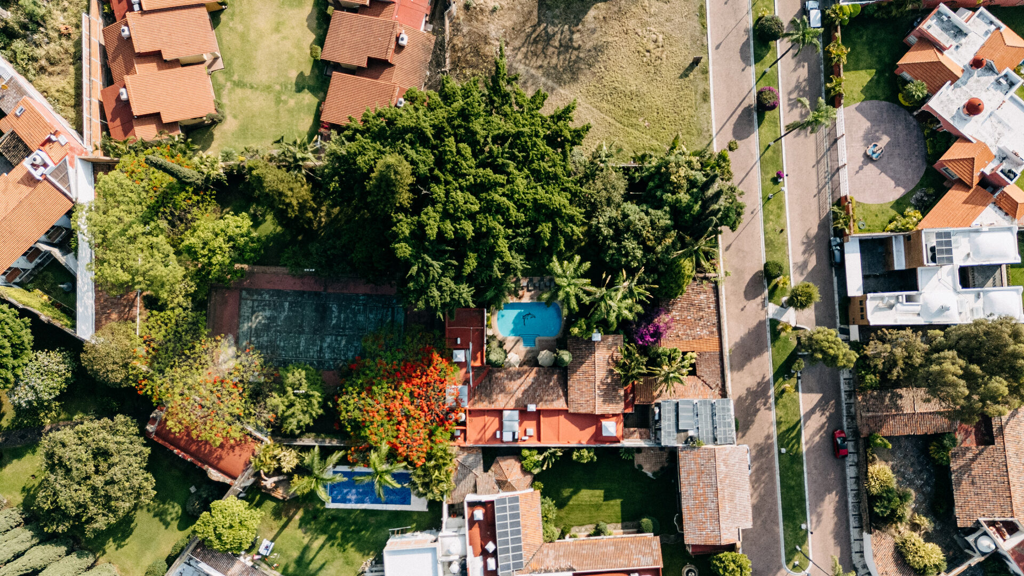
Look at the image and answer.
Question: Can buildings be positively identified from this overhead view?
Yes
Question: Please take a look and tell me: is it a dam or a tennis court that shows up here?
tennis court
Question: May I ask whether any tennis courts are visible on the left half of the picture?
Yes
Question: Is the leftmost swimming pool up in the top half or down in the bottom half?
bottom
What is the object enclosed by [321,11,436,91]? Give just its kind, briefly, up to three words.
house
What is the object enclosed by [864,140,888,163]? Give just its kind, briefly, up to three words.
fountain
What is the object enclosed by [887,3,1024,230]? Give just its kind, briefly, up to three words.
house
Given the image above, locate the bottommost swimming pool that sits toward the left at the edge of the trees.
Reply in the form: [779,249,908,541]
[325,465,428,511]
